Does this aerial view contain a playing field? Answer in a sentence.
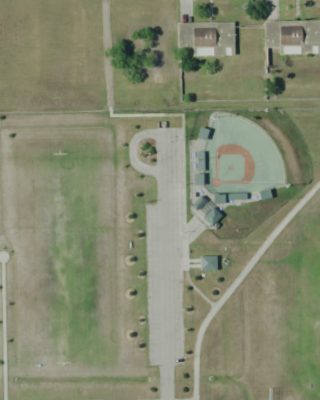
Yes, a playing field can be made out from above.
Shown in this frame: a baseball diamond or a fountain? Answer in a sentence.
There is a baseball diamond in the scene.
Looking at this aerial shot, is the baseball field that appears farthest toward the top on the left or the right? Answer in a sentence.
The baseball field that appears farthest toward the top appears in the right half of the scene.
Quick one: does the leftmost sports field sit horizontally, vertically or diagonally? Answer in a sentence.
I'd say the leftmost sports field is aligned vertically in the picture.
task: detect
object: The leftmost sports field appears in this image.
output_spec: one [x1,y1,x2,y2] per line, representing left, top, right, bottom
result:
[18,142,106,371]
